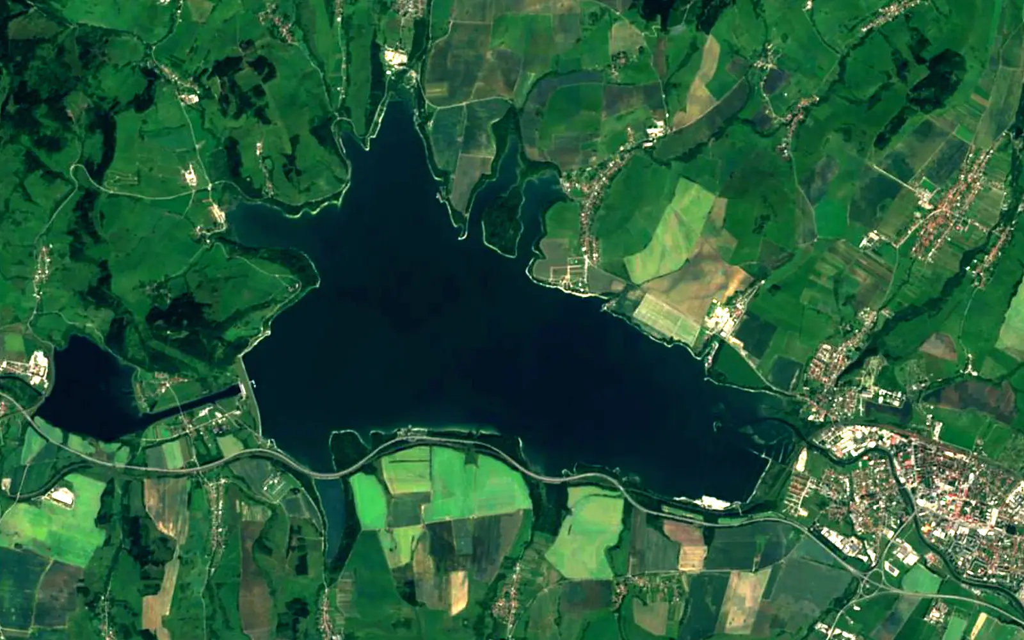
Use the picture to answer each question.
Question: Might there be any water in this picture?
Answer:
Yes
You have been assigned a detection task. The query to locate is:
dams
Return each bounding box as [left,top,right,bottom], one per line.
[235,355,263,436]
